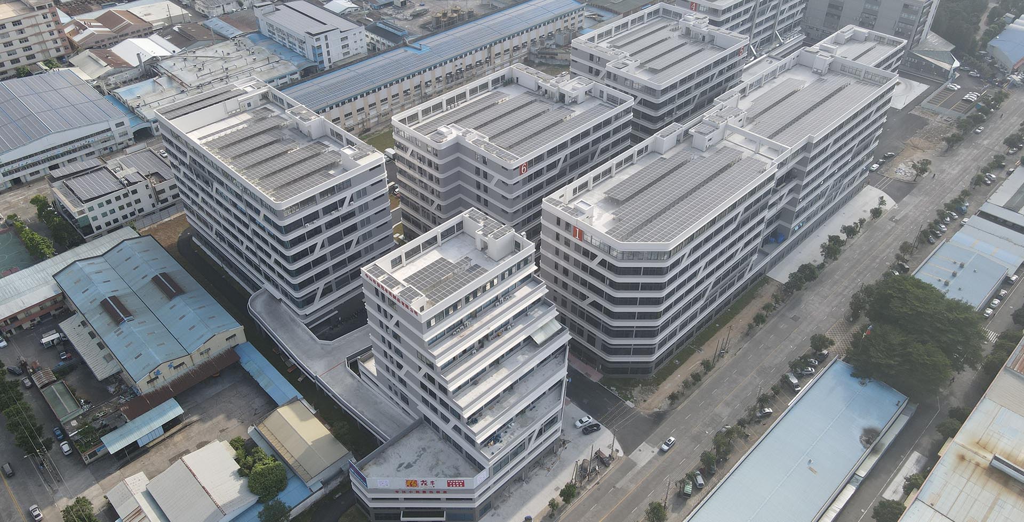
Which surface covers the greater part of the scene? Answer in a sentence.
Most of the picture is covered by buildings.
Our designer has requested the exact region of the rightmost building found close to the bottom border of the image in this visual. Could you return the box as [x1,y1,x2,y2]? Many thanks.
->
[893,341,1024,522]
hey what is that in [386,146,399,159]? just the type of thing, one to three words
vehicle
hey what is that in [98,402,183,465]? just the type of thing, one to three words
shed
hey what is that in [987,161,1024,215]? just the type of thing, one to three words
building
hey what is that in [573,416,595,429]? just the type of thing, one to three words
vehicle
